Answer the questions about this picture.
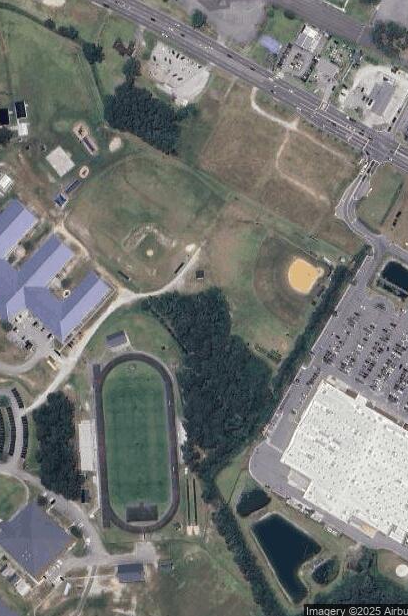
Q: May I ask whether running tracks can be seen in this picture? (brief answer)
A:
Yes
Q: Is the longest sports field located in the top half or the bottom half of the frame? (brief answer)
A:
bottom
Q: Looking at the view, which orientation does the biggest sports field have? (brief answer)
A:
up and down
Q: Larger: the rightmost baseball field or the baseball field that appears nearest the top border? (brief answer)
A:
the rightmost baseball field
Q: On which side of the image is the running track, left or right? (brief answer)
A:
left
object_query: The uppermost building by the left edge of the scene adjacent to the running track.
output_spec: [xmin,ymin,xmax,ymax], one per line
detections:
[0,200,113,339]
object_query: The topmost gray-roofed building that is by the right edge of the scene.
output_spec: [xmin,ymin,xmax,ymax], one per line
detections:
[370,82,396,116]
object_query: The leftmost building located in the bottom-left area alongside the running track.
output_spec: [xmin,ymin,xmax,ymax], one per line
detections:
[0,500,76,578]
